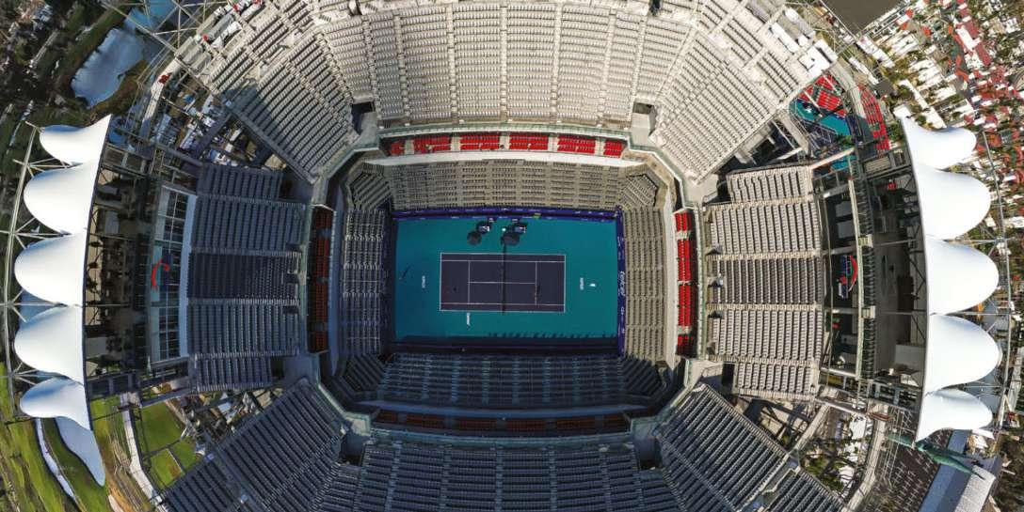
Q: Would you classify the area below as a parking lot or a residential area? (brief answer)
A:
residential area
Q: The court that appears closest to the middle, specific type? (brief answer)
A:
tennis court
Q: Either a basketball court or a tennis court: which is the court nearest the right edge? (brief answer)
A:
tennis court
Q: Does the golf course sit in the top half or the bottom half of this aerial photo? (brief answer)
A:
bottom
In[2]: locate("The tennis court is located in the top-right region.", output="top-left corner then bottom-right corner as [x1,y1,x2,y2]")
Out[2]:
[770,75,894,179]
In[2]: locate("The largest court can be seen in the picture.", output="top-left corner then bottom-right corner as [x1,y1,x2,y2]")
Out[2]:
[389,215,618,352]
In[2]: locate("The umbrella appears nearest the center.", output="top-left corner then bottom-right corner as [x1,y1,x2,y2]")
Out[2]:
[503,230,517,244]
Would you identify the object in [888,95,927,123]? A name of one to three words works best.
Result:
house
